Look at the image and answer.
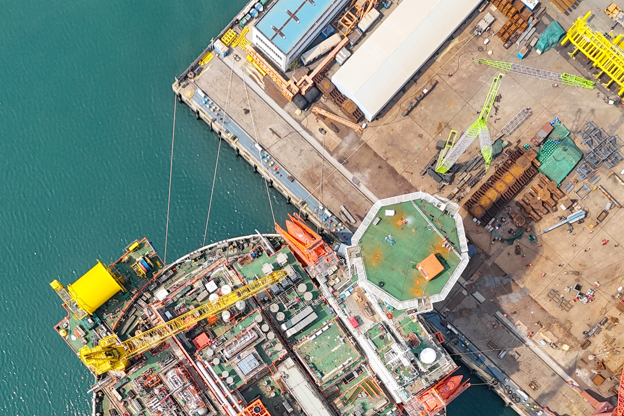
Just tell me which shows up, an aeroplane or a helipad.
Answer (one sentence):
I can see a helipad in this picture.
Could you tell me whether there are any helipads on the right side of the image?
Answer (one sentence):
Yes, I can see a helipad on the right side of the image.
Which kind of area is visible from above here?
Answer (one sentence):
This image shows a port.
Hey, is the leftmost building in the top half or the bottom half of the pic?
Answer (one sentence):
Seen from above, the leftmost building lies in the top half of the view.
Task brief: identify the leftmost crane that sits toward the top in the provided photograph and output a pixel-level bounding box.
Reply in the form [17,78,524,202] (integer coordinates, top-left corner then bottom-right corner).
[431,72,507,190]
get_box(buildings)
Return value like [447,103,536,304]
[251,0,353,73]
[336,0,488,123]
